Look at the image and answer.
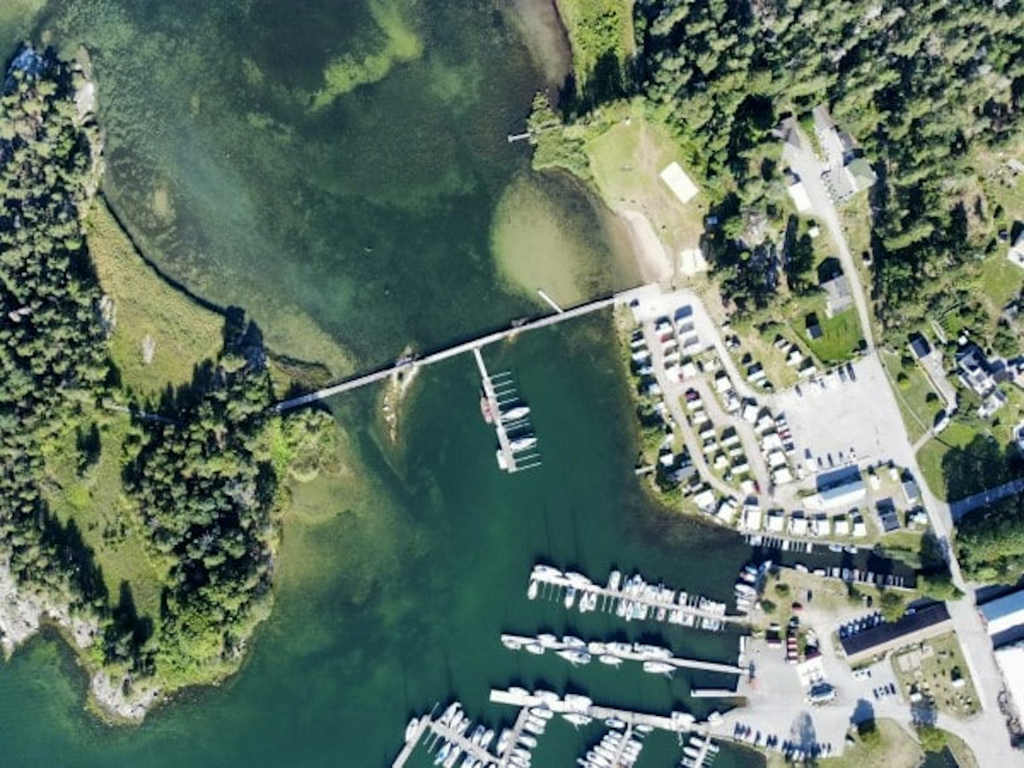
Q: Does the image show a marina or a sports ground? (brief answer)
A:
marina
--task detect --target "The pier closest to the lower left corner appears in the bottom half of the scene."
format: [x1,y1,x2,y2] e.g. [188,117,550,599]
[392,714,430,768]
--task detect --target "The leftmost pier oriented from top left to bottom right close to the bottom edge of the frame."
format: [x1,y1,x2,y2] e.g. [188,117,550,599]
[428,718,506,766]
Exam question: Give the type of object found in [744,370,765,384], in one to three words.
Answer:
camper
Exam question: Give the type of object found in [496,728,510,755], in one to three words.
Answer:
boat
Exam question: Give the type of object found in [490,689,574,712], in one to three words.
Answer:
pier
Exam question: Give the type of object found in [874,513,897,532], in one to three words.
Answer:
shed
